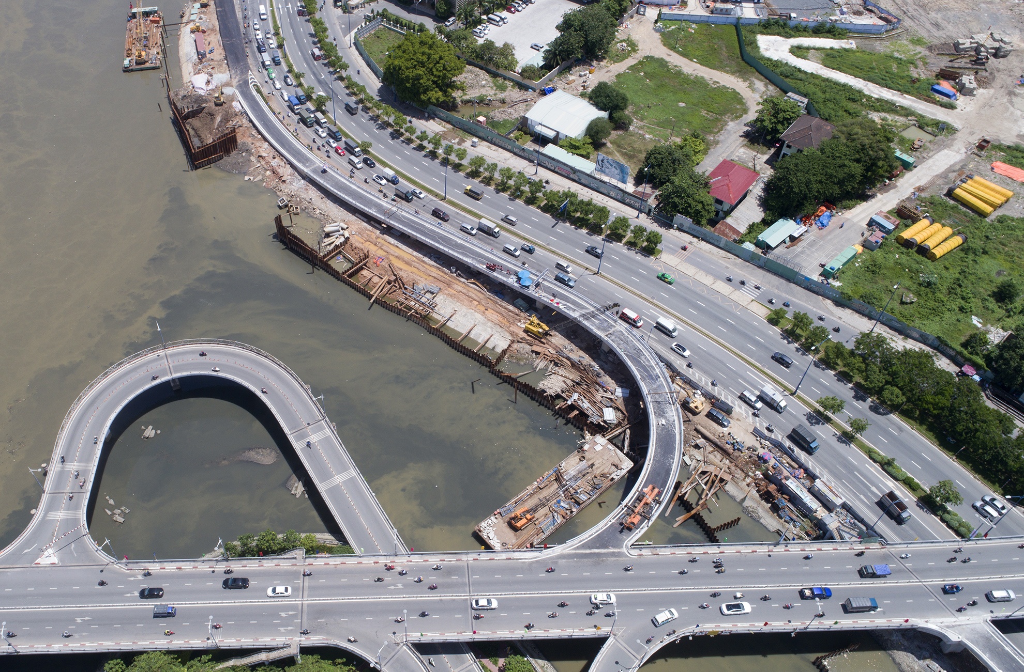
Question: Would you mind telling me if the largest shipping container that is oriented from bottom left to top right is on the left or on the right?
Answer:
right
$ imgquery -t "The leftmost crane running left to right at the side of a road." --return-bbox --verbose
[522,306,618,339]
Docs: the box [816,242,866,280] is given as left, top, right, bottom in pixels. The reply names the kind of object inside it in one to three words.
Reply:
shipping container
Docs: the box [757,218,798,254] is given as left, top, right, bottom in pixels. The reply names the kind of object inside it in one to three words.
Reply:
shed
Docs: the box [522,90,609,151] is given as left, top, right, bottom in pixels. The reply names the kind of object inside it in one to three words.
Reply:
building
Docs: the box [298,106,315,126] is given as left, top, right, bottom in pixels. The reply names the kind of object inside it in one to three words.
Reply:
vehicle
